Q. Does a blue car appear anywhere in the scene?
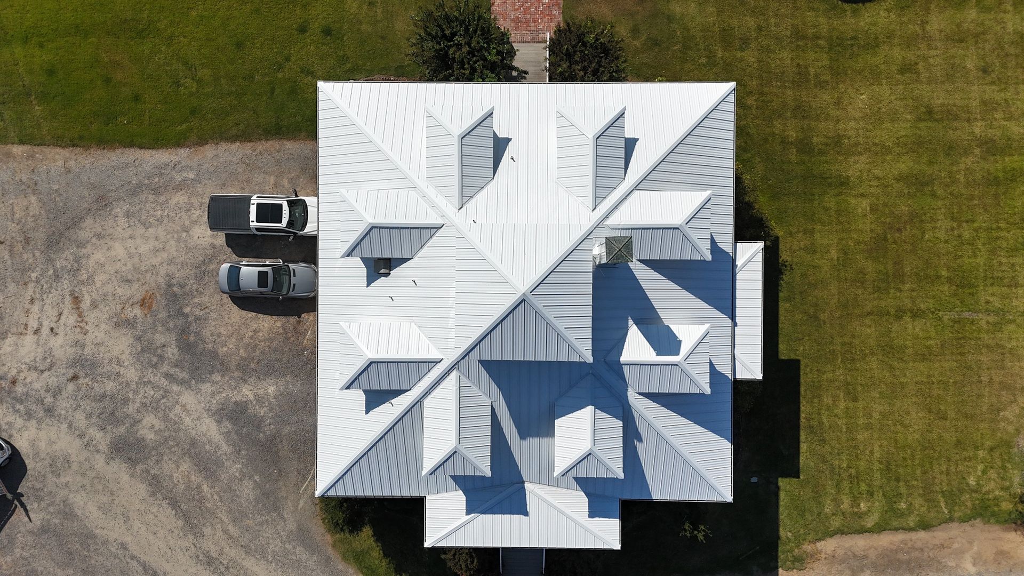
No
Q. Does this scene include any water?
No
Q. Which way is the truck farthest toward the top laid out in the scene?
horizontally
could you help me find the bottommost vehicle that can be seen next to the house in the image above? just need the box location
[219,259,317,300]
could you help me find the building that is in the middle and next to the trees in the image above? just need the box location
[316,82,763,550]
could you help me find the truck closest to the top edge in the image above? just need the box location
[206,185,318,242]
